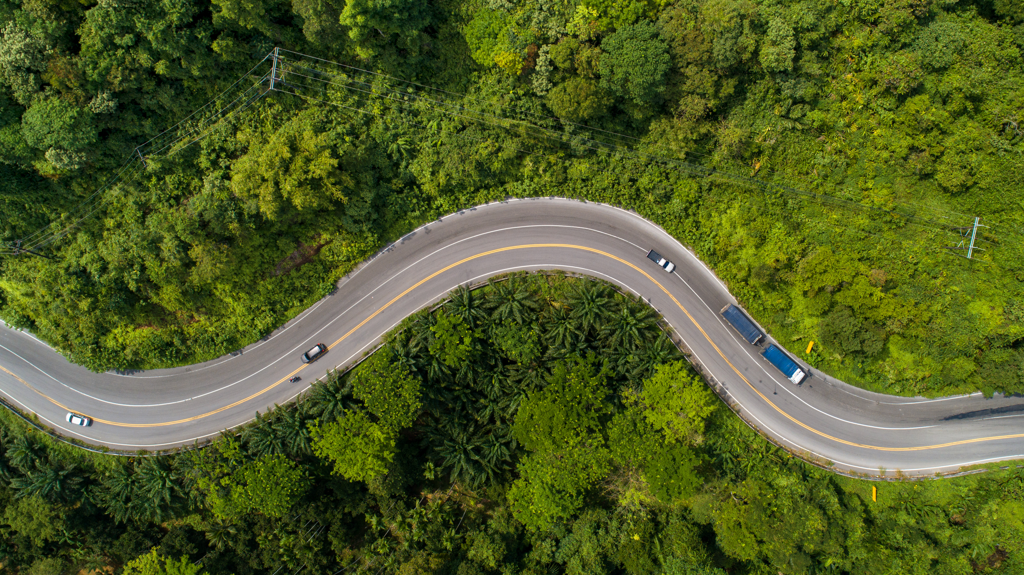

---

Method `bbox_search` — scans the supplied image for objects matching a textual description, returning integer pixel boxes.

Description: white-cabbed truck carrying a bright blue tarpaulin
[757,342,804,383]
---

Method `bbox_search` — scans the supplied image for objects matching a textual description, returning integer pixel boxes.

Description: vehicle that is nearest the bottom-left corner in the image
[66,413,91,427]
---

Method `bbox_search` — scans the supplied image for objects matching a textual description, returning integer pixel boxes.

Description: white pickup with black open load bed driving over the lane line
[646,250,673,272]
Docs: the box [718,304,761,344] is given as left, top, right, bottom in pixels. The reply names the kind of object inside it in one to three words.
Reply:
trailer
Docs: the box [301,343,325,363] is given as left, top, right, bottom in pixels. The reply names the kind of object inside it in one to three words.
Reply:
car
